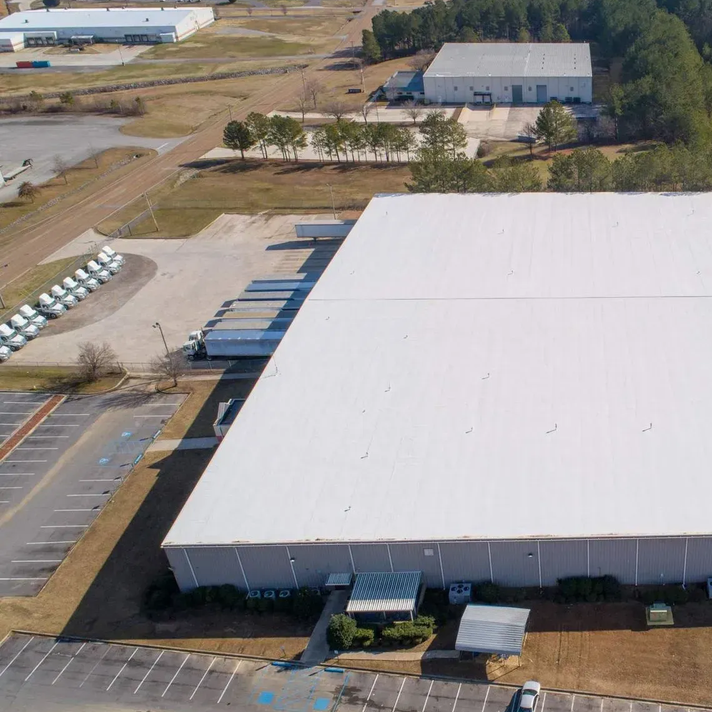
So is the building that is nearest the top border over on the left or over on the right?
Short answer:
left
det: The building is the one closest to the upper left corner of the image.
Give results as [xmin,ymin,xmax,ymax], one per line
[0,6,212,48]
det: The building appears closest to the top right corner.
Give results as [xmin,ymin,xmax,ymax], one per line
[422,43,594,103]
